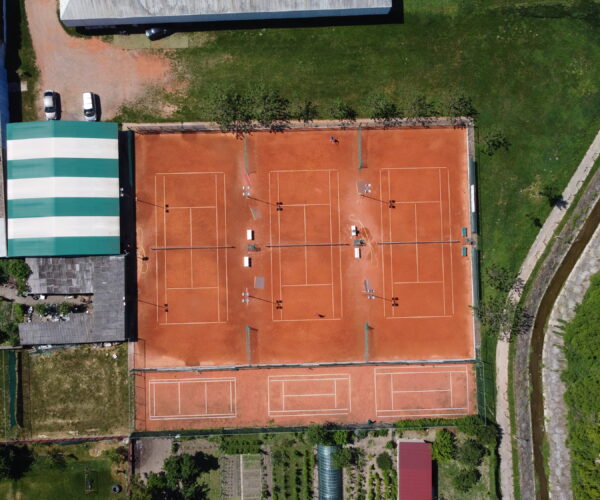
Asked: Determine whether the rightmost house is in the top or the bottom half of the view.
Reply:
bottom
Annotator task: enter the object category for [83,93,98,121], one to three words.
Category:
car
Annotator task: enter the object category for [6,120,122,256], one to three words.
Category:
building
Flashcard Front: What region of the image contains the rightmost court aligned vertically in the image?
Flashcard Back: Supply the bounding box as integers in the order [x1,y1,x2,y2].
[359,127,475,362]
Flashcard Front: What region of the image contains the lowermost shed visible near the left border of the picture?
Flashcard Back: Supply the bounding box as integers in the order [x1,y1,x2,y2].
[19,254,128,346]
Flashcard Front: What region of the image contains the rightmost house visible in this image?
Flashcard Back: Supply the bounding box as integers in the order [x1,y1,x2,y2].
[396,437,434,500]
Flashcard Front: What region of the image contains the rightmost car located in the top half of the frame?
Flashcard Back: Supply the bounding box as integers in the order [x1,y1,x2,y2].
[145,25,171,42]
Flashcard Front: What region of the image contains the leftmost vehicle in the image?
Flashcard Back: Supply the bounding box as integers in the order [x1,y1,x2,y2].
[42,91,56,120]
